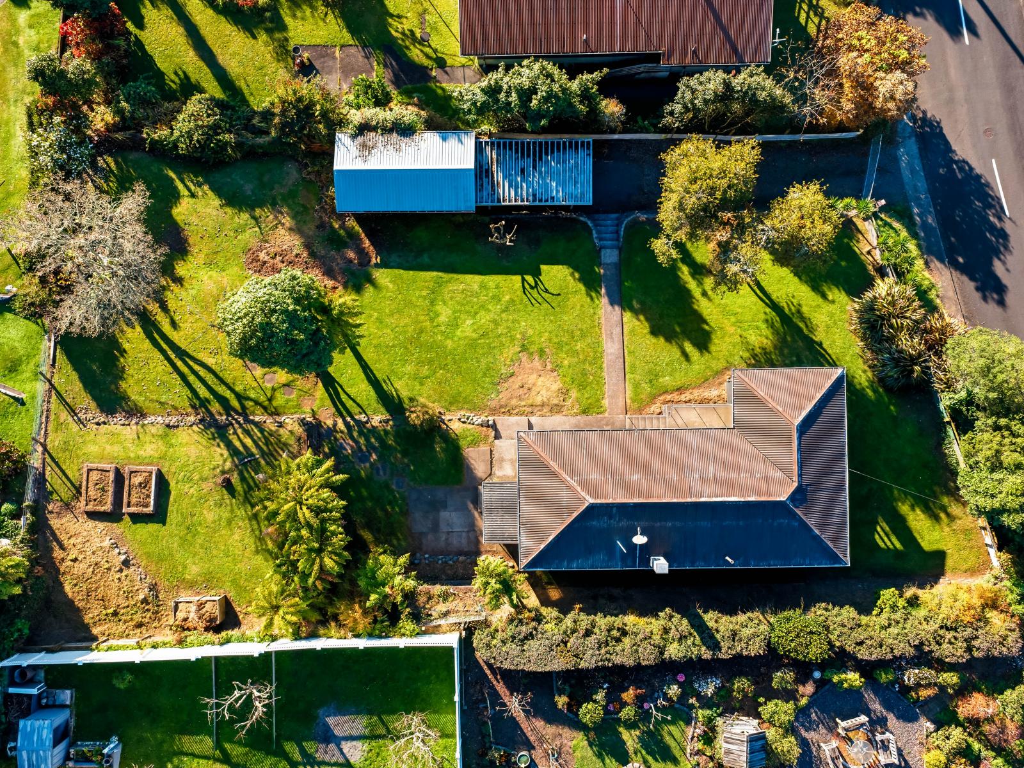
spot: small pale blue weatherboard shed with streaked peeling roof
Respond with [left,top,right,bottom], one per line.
[10,703,76,768]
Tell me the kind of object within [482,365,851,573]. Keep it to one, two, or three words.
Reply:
house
